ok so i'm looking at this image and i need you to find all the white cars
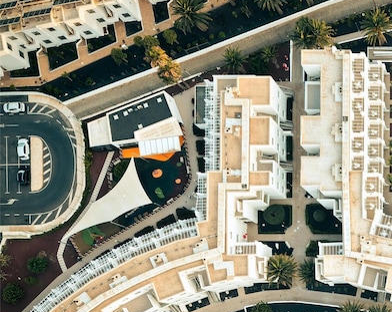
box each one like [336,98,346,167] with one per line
[15,137,28,159]
[1,100,23,112]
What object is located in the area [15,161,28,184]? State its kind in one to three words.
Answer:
vehicle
